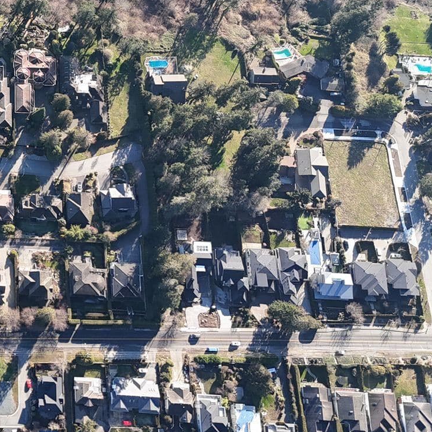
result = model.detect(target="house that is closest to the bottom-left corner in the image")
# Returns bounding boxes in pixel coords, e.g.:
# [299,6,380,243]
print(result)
[38,378,65,413]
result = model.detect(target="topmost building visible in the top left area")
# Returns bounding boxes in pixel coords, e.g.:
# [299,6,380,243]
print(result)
[13,50,56,88]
